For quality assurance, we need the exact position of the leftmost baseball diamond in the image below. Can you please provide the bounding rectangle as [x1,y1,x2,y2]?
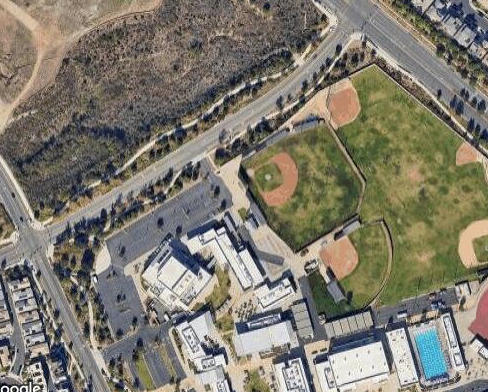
[242,152,299,205]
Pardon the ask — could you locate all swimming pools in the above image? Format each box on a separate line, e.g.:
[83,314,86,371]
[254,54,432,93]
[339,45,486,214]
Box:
[408,318,458,391]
